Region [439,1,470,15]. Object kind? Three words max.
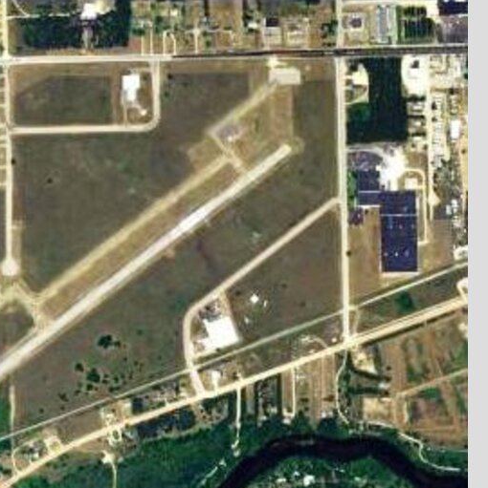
building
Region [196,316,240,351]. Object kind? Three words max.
building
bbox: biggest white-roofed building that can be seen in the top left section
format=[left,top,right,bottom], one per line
[122,74,140,100]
